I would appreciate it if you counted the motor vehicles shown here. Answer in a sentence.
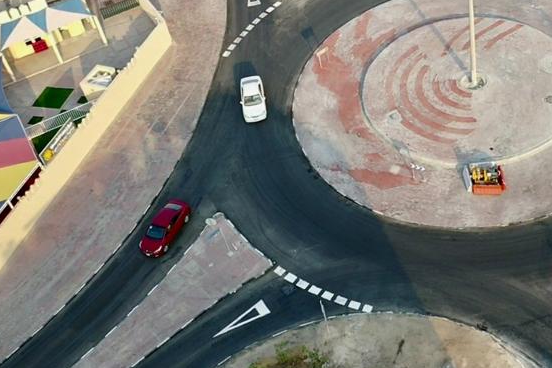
The count of motor vehicles comes to 2.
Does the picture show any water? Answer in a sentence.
No, the scene doesn't show any water.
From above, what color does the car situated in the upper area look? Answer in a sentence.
In this view, the car situated in the upper area is white.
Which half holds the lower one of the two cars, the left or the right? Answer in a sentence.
You can find the lower one of the two cars on the left side of the picture.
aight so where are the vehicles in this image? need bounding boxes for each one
[138,198,192,258]
[238,77,268,123]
